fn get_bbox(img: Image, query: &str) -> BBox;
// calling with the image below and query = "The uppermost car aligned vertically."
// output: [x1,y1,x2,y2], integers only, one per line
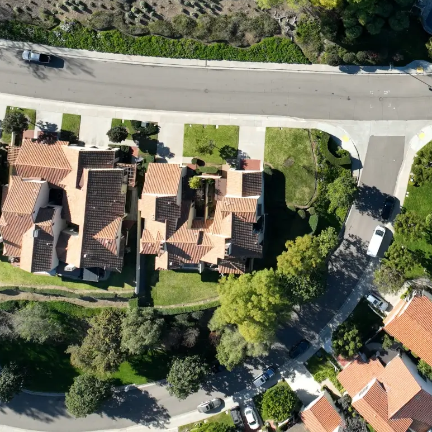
[382,195,395,220]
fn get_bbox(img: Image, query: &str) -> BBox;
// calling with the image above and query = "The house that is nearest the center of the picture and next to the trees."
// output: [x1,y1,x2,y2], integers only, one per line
[137,161,268,275]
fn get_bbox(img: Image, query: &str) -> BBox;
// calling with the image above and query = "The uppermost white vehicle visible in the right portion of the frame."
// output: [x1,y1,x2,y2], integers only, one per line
[366,225,386,259]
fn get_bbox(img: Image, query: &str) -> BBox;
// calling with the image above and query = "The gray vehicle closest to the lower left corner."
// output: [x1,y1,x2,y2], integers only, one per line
[197,396,222,413]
